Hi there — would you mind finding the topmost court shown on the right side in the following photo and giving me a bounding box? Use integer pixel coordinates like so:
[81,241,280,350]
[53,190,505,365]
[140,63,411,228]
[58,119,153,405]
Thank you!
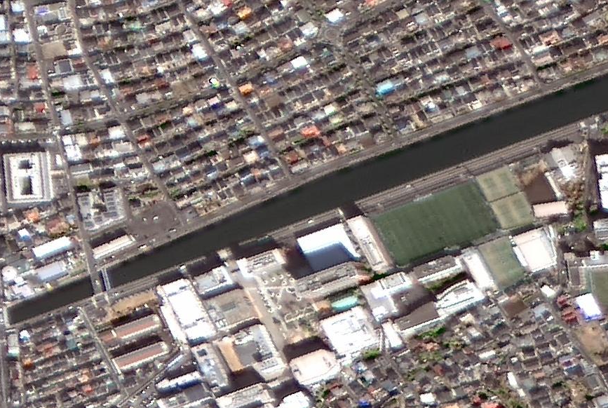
[478,166,523,203]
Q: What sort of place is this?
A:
residential area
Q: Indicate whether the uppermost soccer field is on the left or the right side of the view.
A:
right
